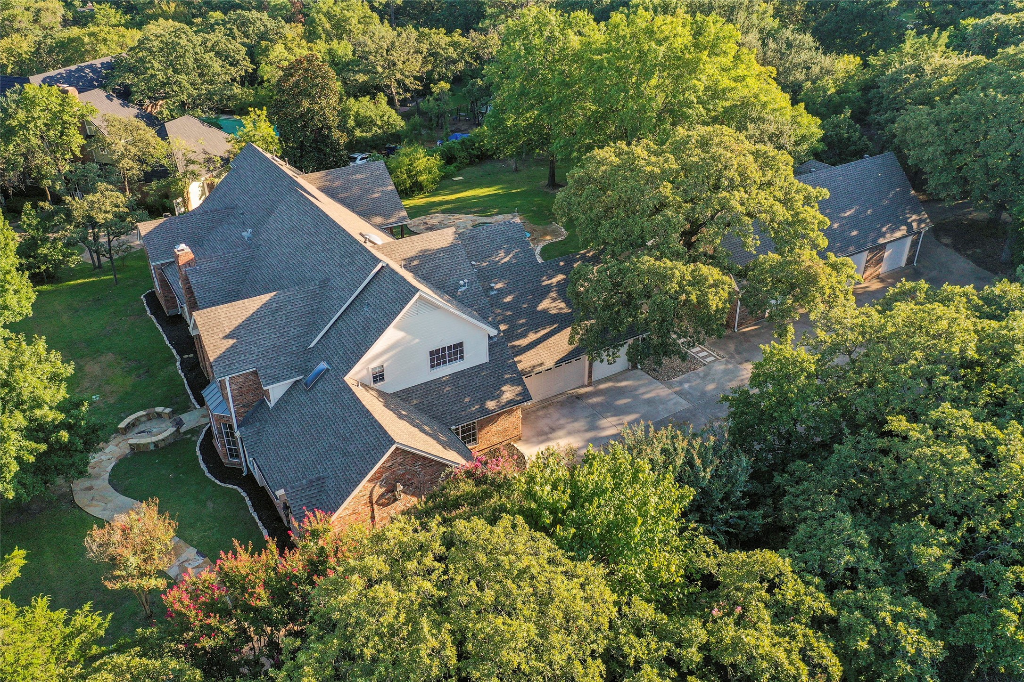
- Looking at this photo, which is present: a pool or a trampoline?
pool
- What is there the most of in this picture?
trees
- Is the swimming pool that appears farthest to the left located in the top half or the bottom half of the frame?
top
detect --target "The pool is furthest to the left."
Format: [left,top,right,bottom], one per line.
[202,109,313,143]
